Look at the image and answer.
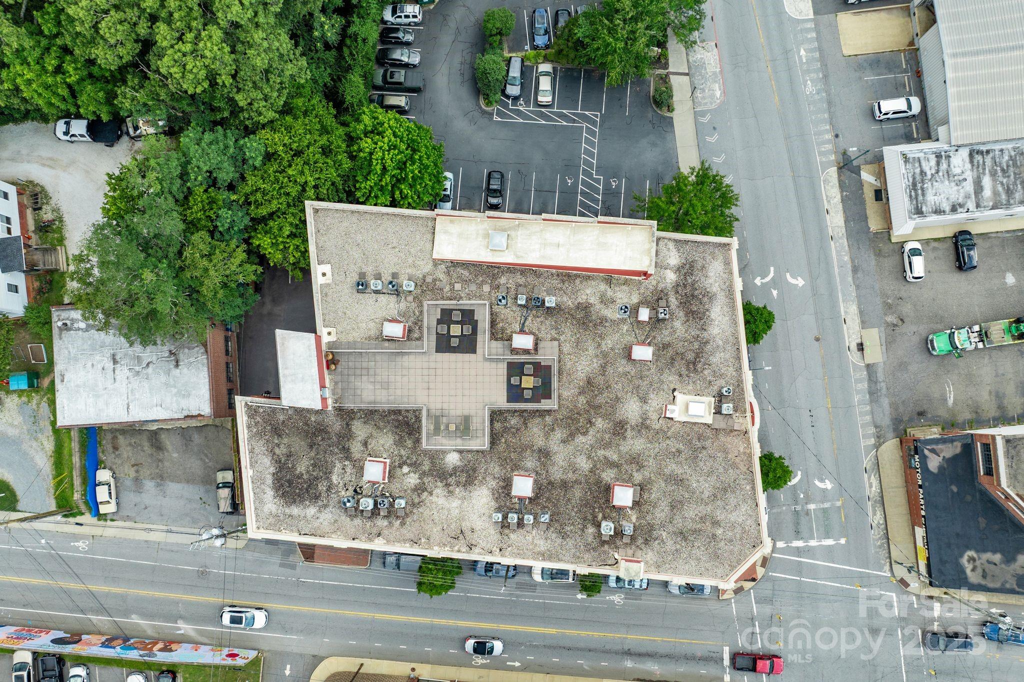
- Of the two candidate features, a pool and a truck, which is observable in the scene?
truck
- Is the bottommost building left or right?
right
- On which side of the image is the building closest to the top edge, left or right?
right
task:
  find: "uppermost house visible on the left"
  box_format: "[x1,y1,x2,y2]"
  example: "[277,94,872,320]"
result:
[0,169,67,305]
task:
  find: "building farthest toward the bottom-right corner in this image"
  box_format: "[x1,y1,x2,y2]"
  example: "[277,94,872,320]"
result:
[902,423,1024,596]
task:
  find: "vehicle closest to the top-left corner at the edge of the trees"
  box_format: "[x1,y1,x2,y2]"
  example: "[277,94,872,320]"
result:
[56,118,123,146]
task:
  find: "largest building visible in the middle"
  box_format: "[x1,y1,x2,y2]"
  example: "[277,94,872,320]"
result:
[235,201,774,590]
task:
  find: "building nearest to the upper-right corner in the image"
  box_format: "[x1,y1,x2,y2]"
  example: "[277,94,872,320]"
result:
[918,0,1024,144]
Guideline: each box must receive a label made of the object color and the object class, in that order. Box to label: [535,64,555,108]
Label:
white car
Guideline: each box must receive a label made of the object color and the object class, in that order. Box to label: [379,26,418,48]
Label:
black car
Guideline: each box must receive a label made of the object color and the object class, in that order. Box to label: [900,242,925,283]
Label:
white car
